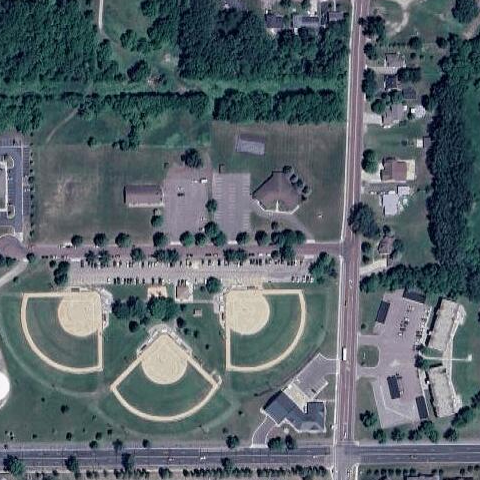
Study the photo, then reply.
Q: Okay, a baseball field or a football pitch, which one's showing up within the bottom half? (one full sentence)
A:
You can see a baseball field within the bottom half.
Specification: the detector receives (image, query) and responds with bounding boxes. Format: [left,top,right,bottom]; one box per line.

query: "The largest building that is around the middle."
[254,172,302,214]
